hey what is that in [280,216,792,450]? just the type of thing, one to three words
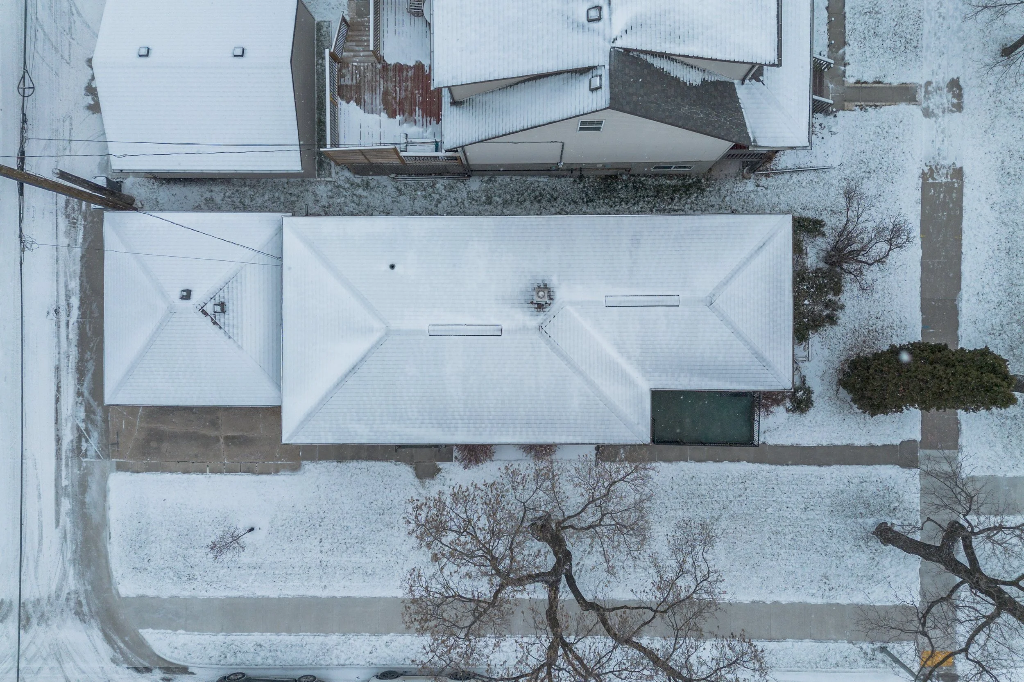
house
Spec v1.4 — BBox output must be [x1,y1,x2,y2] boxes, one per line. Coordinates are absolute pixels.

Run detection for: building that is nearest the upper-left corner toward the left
[92,0,316,179]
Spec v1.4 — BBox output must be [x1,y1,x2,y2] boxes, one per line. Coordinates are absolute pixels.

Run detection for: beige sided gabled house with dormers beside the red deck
[430,0,835,178]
